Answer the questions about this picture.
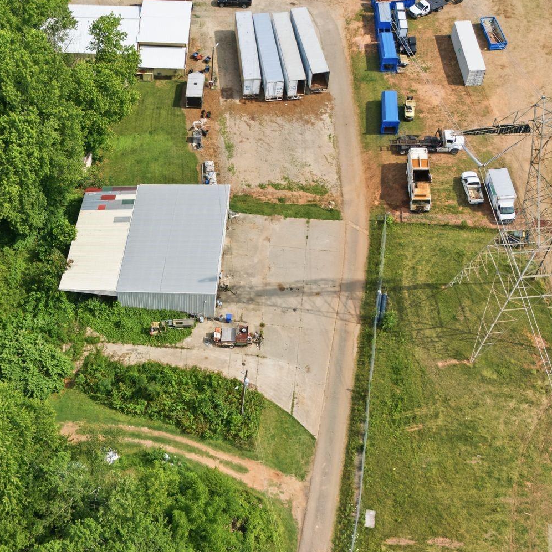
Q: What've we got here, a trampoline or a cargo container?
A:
cargo container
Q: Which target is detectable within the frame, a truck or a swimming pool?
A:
truck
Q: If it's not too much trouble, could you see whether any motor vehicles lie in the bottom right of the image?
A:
No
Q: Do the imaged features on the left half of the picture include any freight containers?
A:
No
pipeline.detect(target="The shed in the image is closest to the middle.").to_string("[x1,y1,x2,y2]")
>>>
[116,182,231,319]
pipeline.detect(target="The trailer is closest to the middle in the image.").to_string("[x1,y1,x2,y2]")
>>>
[204,326,255,347]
